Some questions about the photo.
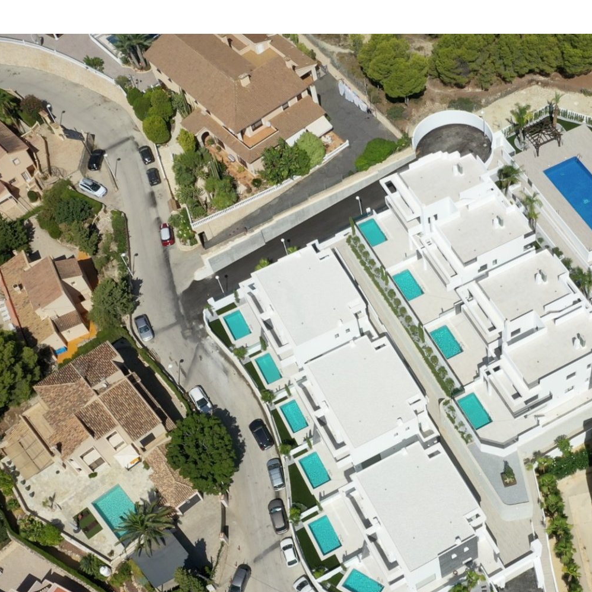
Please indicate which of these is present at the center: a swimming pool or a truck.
swimming pool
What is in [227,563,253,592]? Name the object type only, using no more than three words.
car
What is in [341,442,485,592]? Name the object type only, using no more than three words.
house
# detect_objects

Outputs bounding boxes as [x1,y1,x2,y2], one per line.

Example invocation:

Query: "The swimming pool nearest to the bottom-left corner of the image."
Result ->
[87,483,146,544]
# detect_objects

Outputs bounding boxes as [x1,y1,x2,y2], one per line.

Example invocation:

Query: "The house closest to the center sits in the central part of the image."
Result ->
[238,240,369,373]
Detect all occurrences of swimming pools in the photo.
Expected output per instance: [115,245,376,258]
[277,397,312,436]
[392,268,427,303]
[87,483,146,544]
[305,512,345,559]
[356,216,391,249]
[296,450,334,492]
[427,323,466,362]
[339,568,387,592]
[542,155,592,231]
[251,351,285,387]
[220,307,254,343]
[455,389,495,433]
